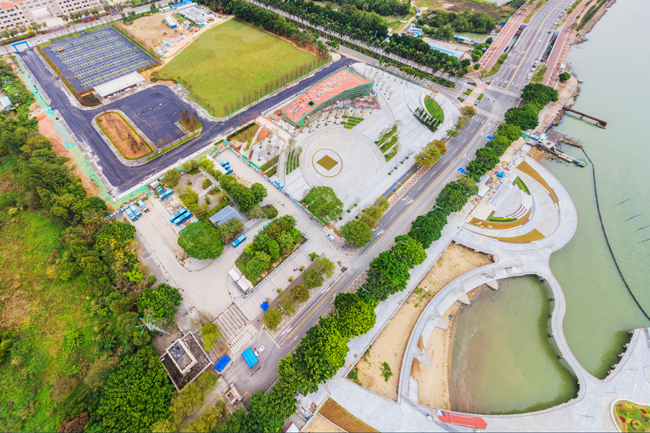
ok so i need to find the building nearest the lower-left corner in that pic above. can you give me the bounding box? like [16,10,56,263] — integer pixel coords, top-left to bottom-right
[157,330,209,385]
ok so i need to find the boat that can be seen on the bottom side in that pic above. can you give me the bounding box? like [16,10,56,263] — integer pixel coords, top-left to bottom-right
[438,409,489,430]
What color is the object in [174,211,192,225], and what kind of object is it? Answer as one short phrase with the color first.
blue vehicle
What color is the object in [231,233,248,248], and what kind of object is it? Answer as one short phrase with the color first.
blue vehicle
